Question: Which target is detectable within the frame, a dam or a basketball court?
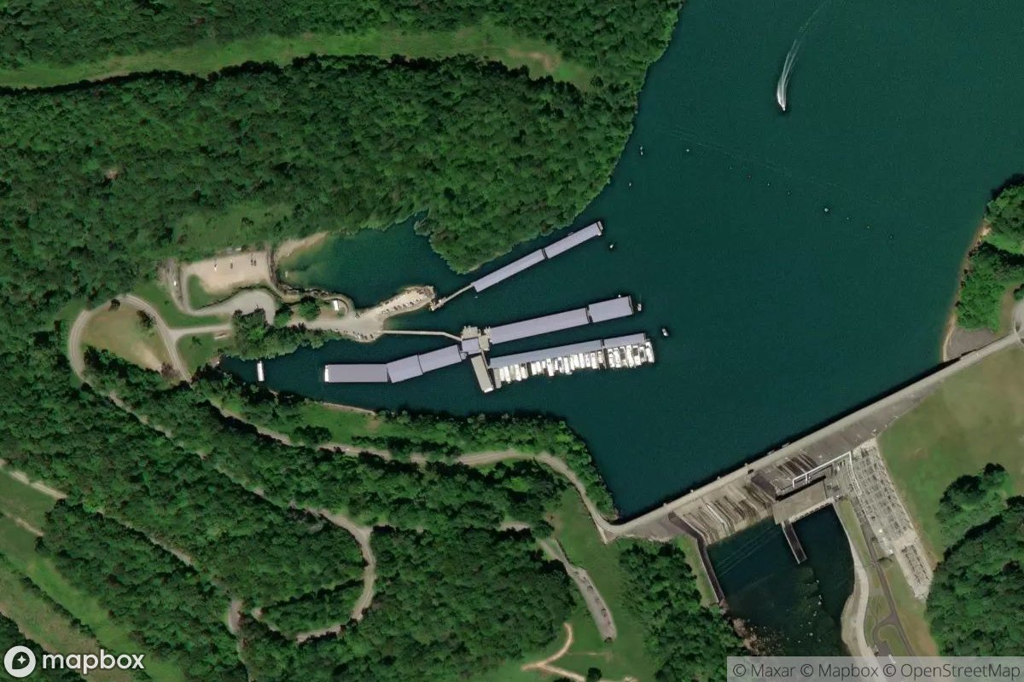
dam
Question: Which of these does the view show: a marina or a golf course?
marina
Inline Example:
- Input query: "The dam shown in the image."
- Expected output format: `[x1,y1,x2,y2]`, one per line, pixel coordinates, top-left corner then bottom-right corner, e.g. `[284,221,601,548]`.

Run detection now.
[619,340,1009,546]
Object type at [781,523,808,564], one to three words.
pier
